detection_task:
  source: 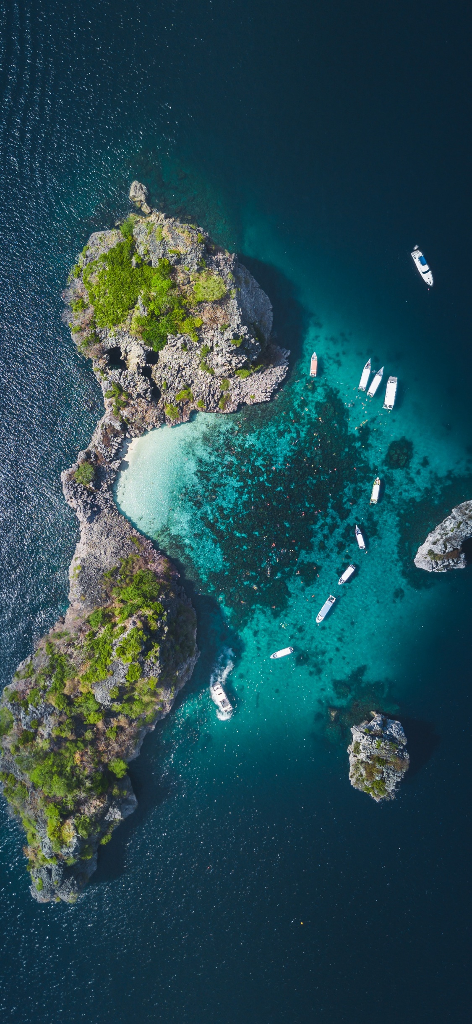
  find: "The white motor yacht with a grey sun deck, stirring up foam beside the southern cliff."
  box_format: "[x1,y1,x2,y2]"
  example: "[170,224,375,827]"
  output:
[215,683,233,712]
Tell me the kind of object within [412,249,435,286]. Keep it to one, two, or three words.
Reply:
boat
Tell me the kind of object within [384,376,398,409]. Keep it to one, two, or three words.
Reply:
boat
